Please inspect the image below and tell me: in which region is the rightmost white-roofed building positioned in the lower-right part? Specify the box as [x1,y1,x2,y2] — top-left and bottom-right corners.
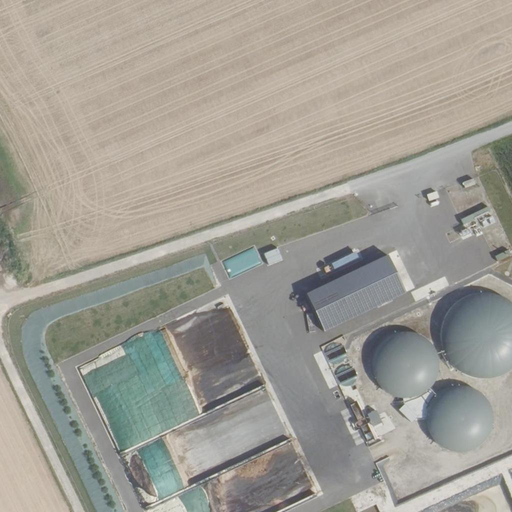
[400,390,432,422]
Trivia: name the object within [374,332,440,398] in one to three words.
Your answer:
storage tank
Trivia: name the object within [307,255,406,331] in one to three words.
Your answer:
building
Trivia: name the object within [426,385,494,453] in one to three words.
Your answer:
storage tank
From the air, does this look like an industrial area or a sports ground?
industrial area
